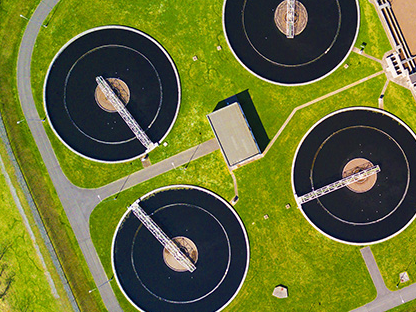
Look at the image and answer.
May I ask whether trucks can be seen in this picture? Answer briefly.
No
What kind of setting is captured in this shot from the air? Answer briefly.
industrial area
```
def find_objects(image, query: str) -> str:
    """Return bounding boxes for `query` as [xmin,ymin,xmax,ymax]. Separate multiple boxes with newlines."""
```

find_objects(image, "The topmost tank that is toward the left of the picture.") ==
[44,25,182,163]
